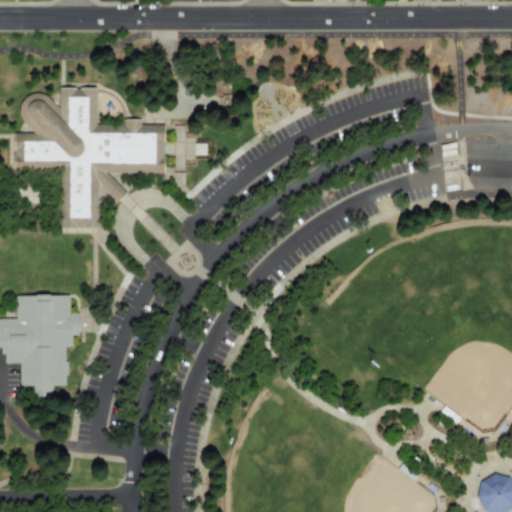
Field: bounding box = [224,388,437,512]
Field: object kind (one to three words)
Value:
baseball field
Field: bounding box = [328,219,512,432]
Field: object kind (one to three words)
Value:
baseball field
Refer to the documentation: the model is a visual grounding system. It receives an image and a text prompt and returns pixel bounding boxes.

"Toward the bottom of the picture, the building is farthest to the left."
[0,294,80,398]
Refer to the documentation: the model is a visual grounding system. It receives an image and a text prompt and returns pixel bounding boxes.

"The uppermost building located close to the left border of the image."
[15,84,165,228]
